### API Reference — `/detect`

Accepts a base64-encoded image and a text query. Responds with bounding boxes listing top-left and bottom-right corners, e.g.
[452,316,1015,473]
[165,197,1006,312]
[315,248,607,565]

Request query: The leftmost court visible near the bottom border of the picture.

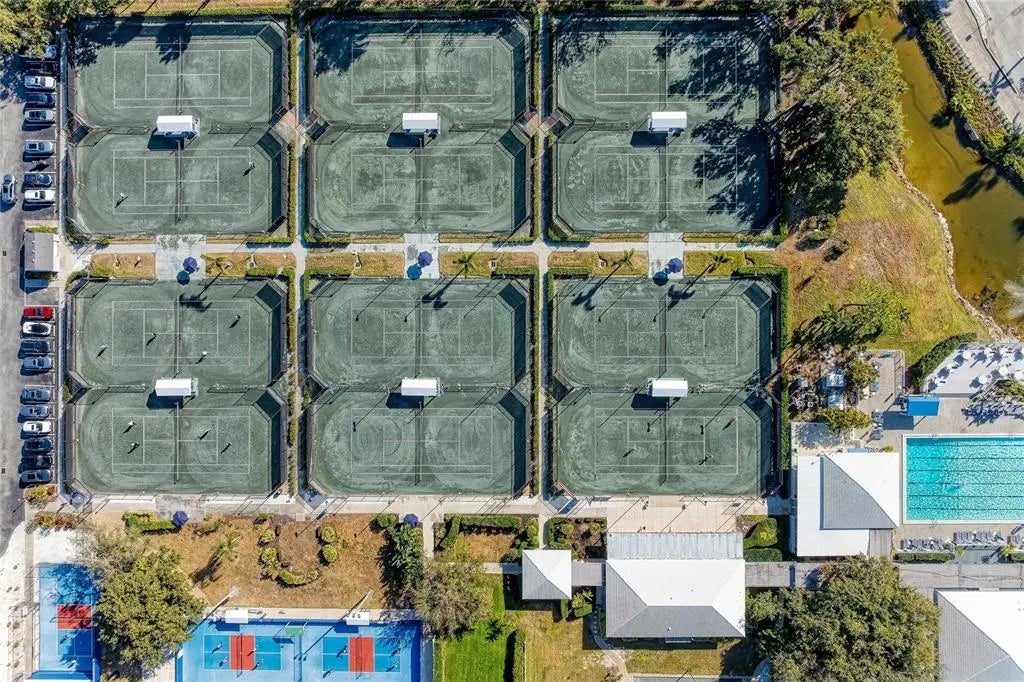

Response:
[51,577,92,657]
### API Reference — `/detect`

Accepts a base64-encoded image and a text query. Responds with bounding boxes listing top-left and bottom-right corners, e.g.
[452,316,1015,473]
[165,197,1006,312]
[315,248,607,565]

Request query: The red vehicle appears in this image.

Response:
[23,305,53,319]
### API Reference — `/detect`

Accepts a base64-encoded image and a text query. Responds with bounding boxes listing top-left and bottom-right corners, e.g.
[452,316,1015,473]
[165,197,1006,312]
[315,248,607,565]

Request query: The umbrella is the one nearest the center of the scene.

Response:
[418,251,432,266]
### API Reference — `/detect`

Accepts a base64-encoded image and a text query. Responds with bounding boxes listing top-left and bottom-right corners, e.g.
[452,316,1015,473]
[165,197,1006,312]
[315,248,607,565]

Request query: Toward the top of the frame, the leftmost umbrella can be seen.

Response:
[183,258,197,272]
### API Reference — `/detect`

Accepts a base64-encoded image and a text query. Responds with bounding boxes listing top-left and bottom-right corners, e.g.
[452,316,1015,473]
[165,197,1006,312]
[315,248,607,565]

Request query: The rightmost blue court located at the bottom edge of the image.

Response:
[322,634,401,677]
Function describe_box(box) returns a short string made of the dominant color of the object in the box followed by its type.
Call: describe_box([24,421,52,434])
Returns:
white vehicle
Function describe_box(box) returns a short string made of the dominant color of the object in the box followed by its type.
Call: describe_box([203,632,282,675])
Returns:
blue sports court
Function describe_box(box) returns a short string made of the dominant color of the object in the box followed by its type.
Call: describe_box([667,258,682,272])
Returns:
blue umbrella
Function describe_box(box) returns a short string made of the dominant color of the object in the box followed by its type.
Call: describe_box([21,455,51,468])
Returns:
black vehicle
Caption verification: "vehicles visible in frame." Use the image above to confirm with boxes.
[23,305,53,319]
[22,389,51,402]
[27,141,53,154]
[23,357,53,370]
[21,455,51,468]
[22,321,52,335]
[26,75,56,90]
[24,438,53,451]
[21,340,51,353]
[25,173,53,186]
[25,109,55,123]
[25,189,55,202]
[25,91,55,106]
[27,61,56,75]
[1,175,17,203]
[21,405,48,417]
[22,471,51,484]
[24,421,52,434]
